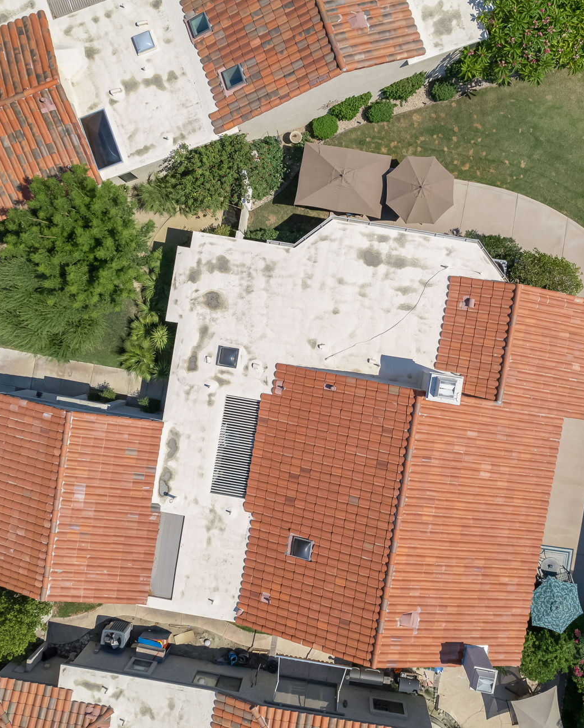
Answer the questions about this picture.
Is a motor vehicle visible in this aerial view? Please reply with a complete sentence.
No, there is no motor vehicle in the image.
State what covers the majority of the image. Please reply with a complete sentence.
The largest share of the image is taken up by buildings.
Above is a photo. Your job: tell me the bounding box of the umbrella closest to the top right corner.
[386,156,453,223]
